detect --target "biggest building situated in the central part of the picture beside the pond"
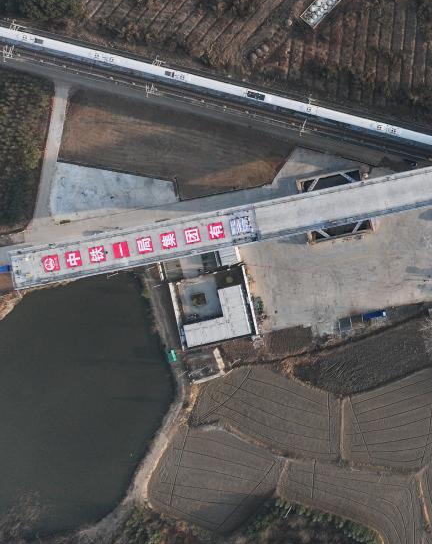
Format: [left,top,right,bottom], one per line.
[184,284,254,347]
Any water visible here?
Yes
